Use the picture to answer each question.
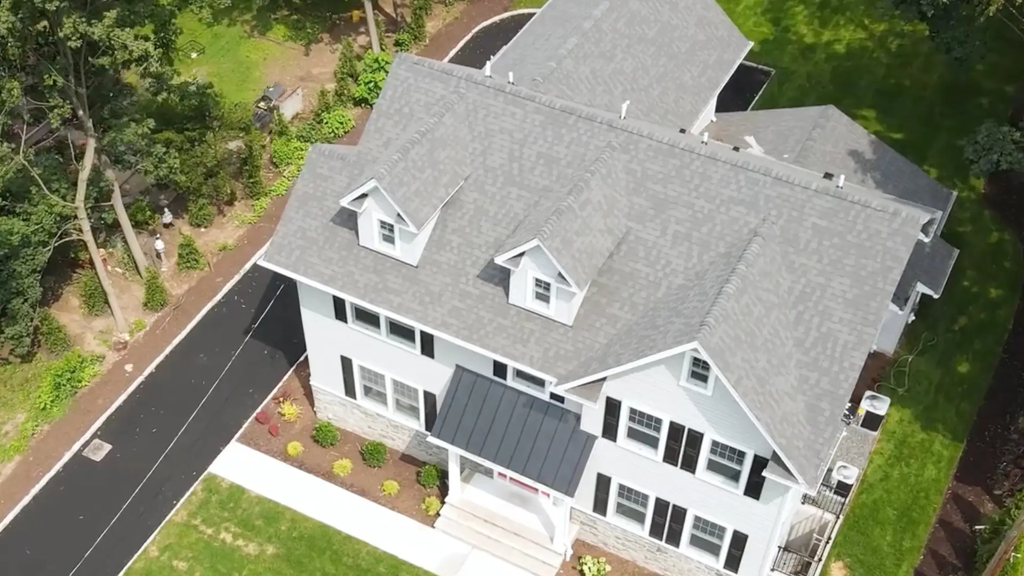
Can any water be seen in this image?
No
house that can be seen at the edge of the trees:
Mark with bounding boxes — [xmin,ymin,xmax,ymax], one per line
[258,0,958,576]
